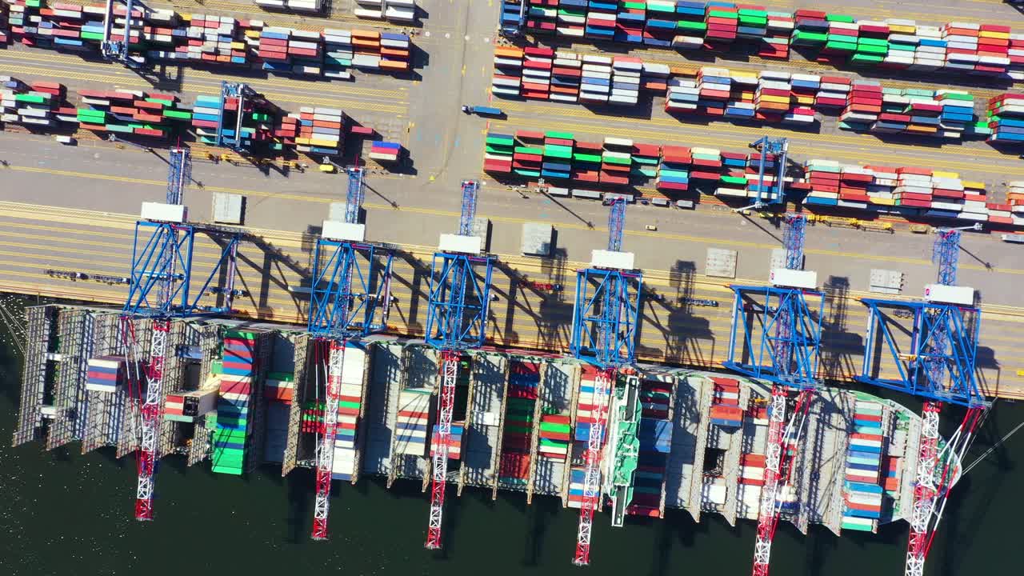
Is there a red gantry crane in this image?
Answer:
No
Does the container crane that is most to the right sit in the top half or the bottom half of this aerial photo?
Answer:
bottom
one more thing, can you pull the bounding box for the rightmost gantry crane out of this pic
[842,229,992,576]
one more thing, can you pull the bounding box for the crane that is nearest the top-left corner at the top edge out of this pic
[101,0,161,79]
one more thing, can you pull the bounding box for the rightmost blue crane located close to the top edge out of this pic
[495,0,528,45]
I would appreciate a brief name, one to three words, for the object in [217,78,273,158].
crane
